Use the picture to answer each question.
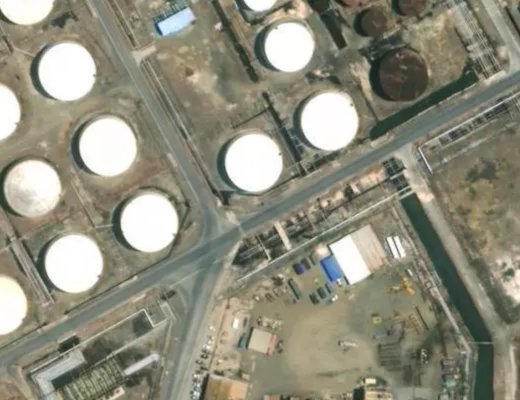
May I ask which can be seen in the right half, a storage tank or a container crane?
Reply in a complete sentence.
Visible in the right half is a storage tank.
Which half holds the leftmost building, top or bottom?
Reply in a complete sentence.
The leftmost building sits in the bottom half of the picture.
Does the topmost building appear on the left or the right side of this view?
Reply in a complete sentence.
The topmost building is on the left side of the image.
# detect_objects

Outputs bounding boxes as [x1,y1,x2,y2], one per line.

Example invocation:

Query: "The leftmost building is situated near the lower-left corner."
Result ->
[32,347,86,400]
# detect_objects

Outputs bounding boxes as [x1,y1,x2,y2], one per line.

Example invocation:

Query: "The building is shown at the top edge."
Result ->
[156,6,197,37]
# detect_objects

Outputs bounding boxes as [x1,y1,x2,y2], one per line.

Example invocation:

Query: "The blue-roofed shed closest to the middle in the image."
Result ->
[320,254,344,282]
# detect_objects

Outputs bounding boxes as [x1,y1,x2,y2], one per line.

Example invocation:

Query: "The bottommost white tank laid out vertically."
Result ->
[0,275,28,337]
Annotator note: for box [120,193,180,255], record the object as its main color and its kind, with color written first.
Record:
white storage tank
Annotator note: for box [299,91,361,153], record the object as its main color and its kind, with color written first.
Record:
white storage tank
